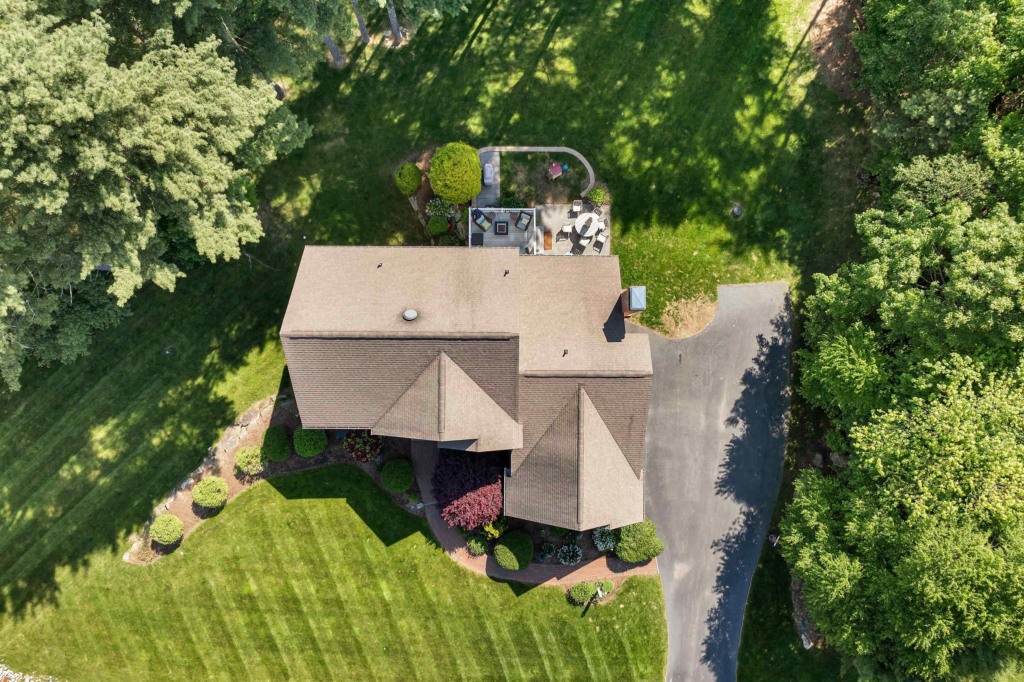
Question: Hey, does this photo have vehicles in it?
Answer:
No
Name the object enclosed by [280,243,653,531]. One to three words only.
house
